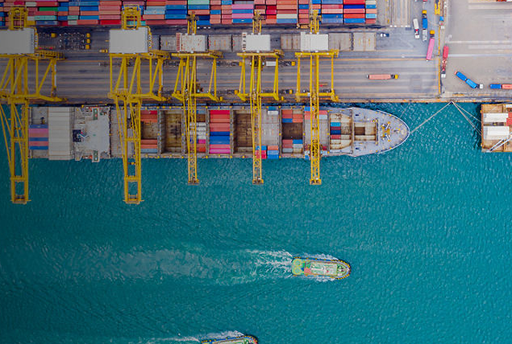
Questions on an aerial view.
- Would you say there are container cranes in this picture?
Yes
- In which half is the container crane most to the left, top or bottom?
top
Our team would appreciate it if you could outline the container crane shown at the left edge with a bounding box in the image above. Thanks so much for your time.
[0,5,66,203]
